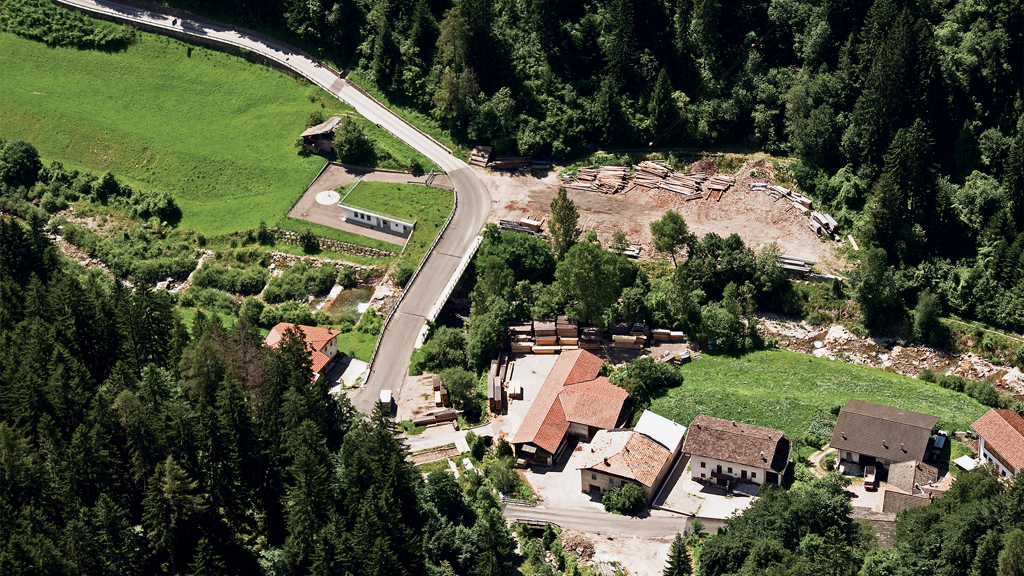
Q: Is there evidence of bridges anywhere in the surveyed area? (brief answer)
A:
Yes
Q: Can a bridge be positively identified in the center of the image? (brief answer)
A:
Yes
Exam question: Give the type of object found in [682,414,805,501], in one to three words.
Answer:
house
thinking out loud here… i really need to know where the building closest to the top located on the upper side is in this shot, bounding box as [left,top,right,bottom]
[300,117,343,160]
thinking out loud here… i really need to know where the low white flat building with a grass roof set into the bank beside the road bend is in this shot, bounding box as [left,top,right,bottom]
[339,178,435,233]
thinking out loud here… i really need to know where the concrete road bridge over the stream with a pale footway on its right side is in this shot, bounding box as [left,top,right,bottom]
[402,235,483,349]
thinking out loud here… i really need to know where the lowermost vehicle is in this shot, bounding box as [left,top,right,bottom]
[862,466,878,490]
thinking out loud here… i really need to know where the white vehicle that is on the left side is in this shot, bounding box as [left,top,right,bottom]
[380,386,393,415]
